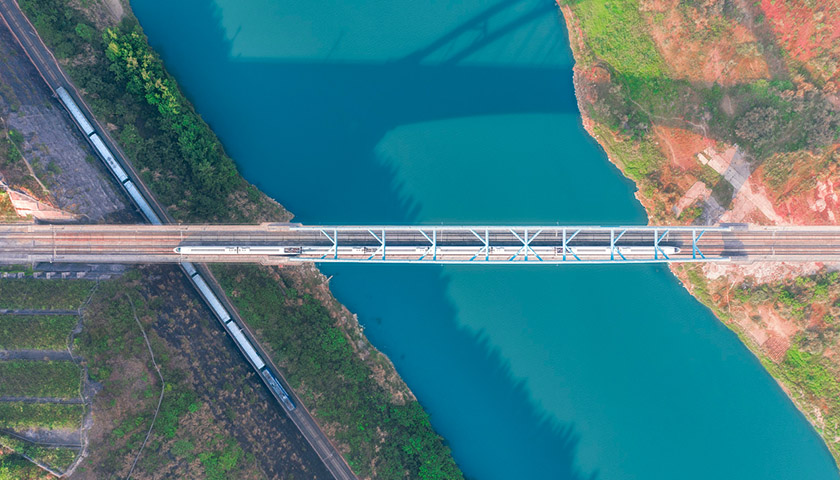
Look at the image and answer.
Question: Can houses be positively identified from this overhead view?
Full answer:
No, there appears to be no house in this shot.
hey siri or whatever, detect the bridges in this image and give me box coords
[0,222,840,265]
